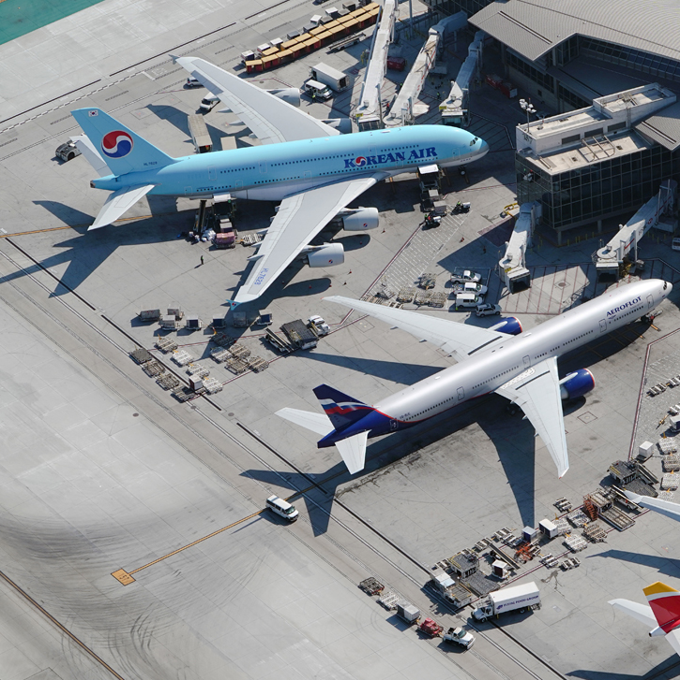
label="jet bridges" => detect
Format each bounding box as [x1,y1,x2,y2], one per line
[592,181,679,279]
[497,200,543,287]
[441,32,492,123]
[382,11,472,129]
[355,0,410,129]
